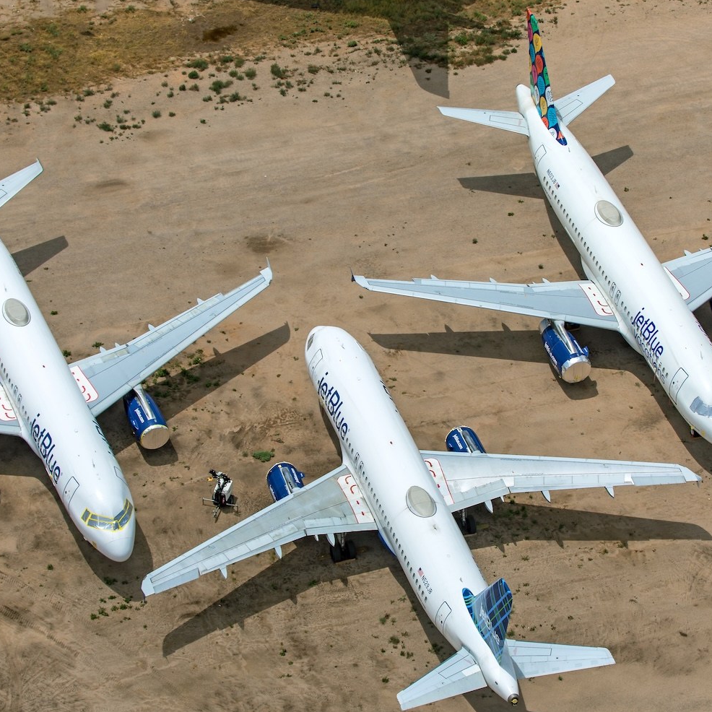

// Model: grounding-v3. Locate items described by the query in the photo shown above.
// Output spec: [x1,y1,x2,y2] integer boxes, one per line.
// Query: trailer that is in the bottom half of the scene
[202,469,238,516]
